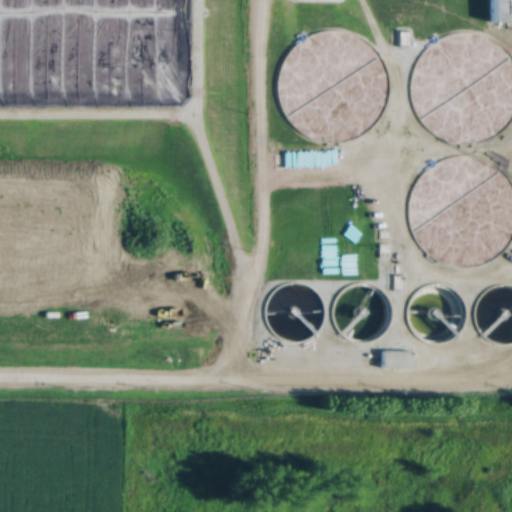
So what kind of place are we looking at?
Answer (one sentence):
It's an industrial area.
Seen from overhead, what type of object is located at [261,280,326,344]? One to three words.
storage tank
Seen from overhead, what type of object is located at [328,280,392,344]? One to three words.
storage tank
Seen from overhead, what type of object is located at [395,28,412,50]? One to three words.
building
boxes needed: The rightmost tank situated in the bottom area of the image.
[474,282,512,346]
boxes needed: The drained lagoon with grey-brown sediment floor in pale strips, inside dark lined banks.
[0,0,189,105]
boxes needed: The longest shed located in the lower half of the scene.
[381,350,416,368]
